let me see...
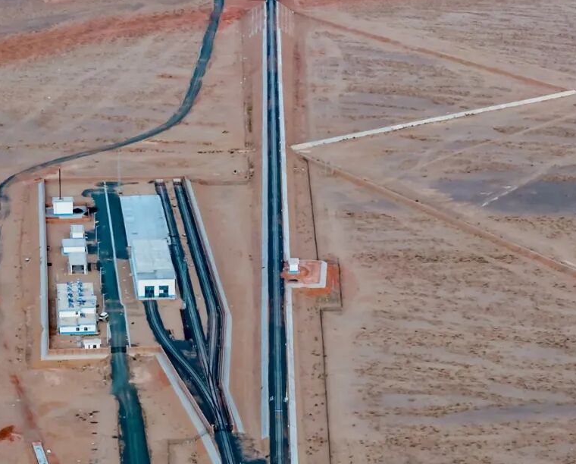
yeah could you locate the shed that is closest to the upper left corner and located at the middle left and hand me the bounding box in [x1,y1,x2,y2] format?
[46,197,88,222]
